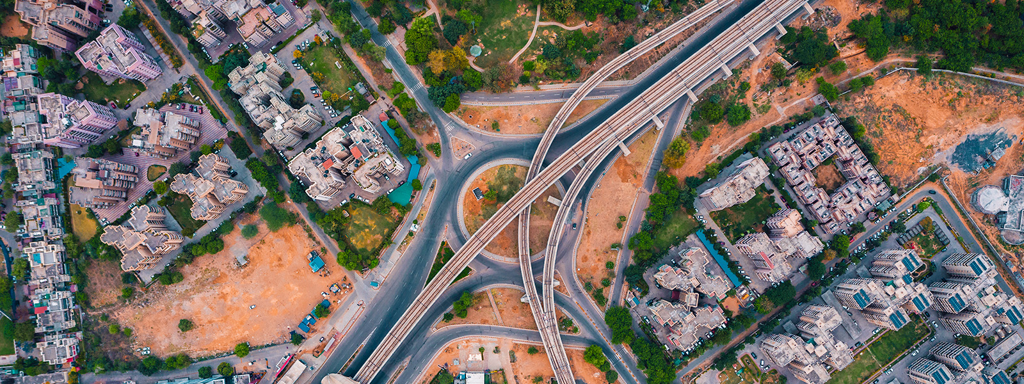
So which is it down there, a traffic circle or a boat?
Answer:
traffic circle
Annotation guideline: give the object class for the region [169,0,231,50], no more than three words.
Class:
building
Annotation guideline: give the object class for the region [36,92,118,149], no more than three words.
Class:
building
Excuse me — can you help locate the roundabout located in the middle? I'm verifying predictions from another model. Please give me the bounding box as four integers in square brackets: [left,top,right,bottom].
[438,139,586,284]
